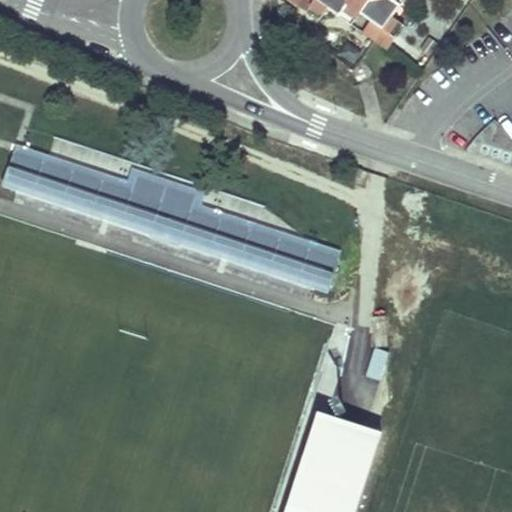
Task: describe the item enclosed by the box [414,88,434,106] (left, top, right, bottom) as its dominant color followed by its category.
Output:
white car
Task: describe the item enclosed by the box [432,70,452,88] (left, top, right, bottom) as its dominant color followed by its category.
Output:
white car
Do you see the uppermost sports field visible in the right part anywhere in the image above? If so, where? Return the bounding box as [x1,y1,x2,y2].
[400,310,512,468]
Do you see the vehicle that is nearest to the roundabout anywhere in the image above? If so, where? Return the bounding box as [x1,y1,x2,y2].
[88,40,112,57]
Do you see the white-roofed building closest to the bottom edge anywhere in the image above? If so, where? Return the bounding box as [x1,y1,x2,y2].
[284,412,382,512]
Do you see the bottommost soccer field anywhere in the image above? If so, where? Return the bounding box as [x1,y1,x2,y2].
[396,443,512,512]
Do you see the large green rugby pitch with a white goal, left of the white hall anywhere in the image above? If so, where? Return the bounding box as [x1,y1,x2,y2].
[0,216,332,512]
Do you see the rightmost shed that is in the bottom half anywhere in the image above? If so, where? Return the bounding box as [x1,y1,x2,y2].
[366,348,390,381]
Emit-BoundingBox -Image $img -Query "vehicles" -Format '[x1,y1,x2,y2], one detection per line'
[414,88,434,106]
[432,70,452,88]
[372,308,387,316]
[88,40,112,57]
[443,66,463,83]
[500,117,512,142]
[481,33,498,54]
[494,22,512,44]
[474,104,492,124]
[448,130,468,148]
[463,45,479,66]
[471,37,488,58]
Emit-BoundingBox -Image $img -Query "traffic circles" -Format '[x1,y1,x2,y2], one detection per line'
[111,0,253,86]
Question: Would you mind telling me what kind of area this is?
sports ground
